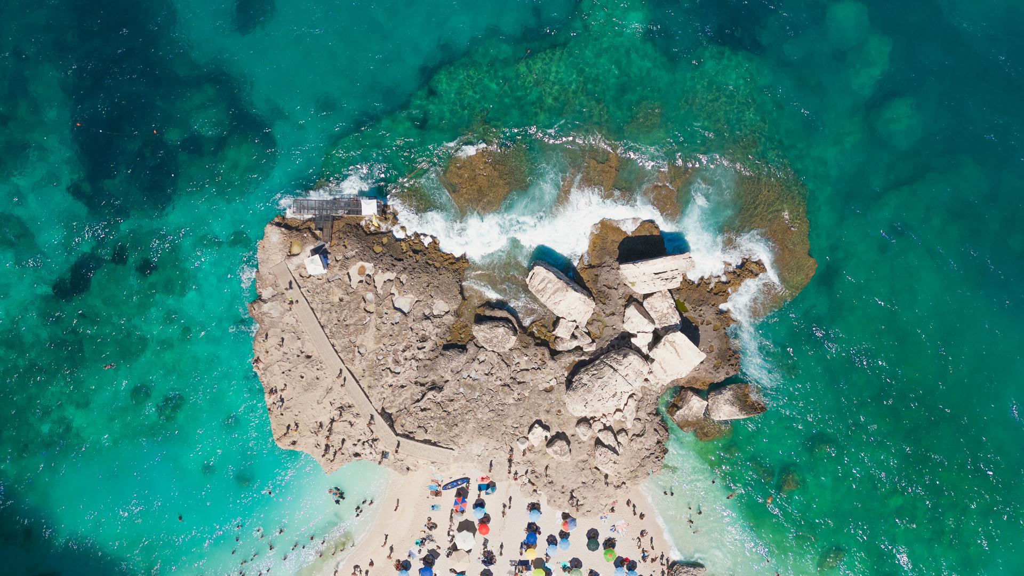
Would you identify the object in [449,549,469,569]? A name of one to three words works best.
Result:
umbrella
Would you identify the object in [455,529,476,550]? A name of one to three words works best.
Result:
umbrella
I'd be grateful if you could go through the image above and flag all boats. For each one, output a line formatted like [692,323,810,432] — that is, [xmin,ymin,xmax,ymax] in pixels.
[442,478,471,491]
